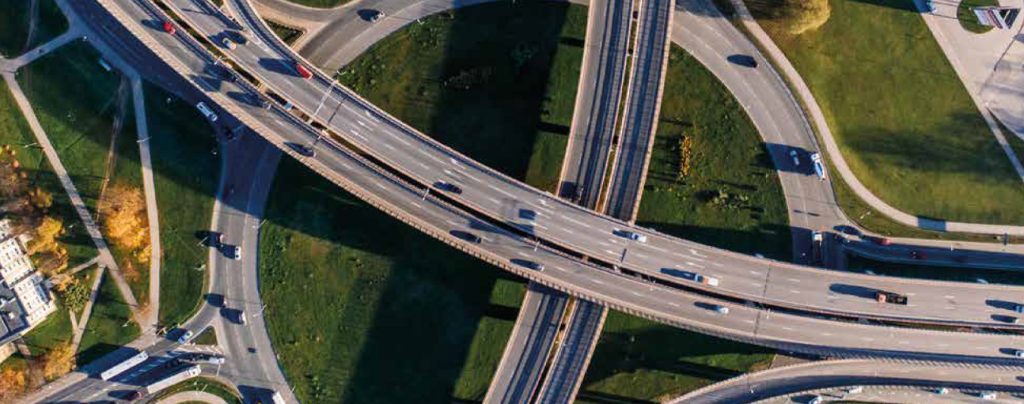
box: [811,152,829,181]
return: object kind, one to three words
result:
vehicle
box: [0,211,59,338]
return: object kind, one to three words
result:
building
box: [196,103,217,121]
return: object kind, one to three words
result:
vehicle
